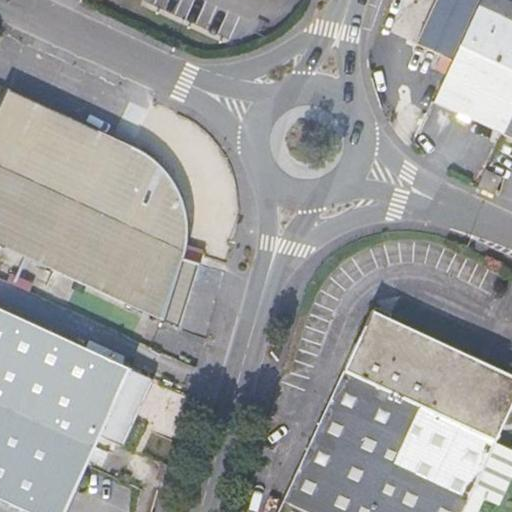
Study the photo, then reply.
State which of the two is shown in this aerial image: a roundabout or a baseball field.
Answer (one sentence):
It is a roundabout that can be seen here.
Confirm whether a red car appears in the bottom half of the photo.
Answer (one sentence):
No, I see no red car in the bottom half of the photo.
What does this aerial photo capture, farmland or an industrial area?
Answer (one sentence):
It's an industrial area.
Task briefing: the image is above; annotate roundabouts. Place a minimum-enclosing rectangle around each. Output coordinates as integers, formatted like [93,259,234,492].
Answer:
[178,20,440,266]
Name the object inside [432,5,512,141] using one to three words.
building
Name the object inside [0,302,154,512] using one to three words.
warehouse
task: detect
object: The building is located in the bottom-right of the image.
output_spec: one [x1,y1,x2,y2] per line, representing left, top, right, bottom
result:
[275,307,512,512]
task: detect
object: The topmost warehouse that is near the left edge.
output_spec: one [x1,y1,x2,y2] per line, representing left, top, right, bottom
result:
[0,89,190,321]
